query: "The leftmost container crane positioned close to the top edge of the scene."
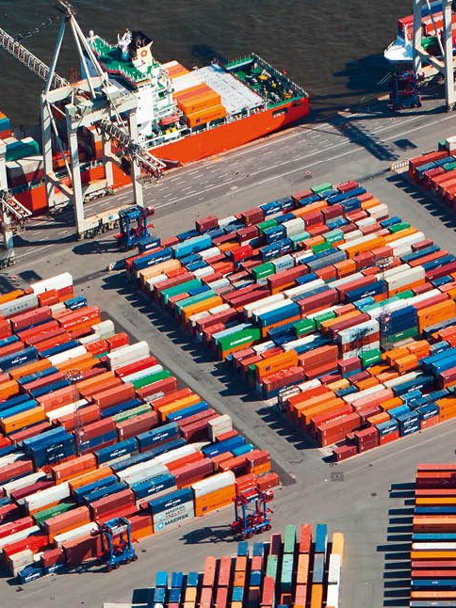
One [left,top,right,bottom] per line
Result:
[0,0,173,240]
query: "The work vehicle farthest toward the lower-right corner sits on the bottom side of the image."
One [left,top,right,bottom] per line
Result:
[237,478,286,537]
